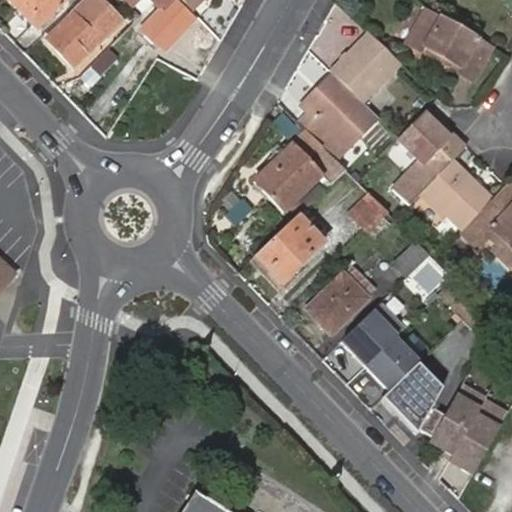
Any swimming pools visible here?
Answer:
Yes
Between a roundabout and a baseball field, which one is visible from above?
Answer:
roundabout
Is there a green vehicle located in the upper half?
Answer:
No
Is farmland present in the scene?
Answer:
No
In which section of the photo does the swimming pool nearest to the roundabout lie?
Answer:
center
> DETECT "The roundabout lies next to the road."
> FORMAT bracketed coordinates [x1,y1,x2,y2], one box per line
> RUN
[60,147,198,297]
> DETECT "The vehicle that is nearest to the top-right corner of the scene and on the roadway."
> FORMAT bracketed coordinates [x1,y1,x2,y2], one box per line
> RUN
[482,89,500,109]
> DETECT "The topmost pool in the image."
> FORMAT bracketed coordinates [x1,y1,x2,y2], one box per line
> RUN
[272,111,302,140]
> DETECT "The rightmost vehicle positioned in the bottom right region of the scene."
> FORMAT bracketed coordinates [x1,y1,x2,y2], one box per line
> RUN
[473,471,495,488]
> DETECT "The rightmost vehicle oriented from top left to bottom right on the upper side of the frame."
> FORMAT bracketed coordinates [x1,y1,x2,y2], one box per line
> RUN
[100,157,122,174]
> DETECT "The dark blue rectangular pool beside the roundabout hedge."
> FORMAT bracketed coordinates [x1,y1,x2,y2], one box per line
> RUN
[226,196,254,224]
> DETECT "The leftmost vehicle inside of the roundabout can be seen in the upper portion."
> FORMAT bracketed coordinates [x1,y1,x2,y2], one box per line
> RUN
[67,172,83,196]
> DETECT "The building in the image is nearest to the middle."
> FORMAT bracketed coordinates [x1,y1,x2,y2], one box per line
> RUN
[250,212,328,292]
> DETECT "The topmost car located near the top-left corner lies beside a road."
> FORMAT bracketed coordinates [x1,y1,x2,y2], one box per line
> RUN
[14,62,33,80]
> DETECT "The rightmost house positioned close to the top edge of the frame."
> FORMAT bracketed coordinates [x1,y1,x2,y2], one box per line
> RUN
[424,16,496,84]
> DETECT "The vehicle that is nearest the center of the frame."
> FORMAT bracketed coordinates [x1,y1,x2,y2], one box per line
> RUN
[274,330,292,350]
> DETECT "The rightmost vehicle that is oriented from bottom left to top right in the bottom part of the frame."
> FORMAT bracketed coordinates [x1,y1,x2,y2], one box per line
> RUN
[352,376,372,394]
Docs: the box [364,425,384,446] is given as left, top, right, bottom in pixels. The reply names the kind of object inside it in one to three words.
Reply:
car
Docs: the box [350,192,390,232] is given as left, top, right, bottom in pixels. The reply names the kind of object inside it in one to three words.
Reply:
shed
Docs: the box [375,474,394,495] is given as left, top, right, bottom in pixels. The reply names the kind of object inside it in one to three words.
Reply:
car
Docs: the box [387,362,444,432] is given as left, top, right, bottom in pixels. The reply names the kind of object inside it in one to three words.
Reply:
house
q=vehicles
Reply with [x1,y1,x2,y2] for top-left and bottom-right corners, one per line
[219,120,238,142]
[14,62,33,80]
[482,89,500,109]
[100,157,122,174]
[444,507,455,512]
[375,474,394,495]
[32,82,52,104]
[340,26,358,36]
[110,86,127,106]
[115,279,133,298]
[352,376,372,394]
[473,471,495,488]
[67,172,83,196]
[164,148,186,166]
[336,348,346,368]
[364,425,384,446]
[274,330,292,350]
